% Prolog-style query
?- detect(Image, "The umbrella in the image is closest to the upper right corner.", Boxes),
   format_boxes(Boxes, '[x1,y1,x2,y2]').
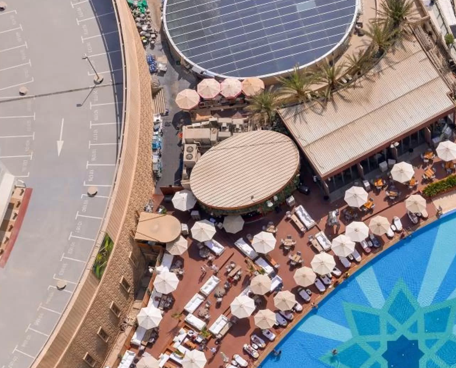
[435,143,456,163]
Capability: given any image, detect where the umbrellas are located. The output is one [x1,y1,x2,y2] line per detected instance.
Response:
[250,276,271,296]
[177,90,200,112]
[191,220,217,242]
[343,186,368,209]
[294,268,315,287]
[330,235,356,257]
[220,80,242,100]
[369,217,390,237]
[197,79,220,101]
[311,253,336,276]
[405,196,425,217]
[182,349,208,368]
[166,238,187,257]
[345,220,369,243]
[223,215,244,236]
[155,271,179,293]
[391,163,415,185]
[435,143,456,163]
[174,191,197,212]
[255,308,277,329]
[138,358,159,368]
[273,292,295,311]
[139,307,163,331]
[230,295,255,319]
[252,233,277,255]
